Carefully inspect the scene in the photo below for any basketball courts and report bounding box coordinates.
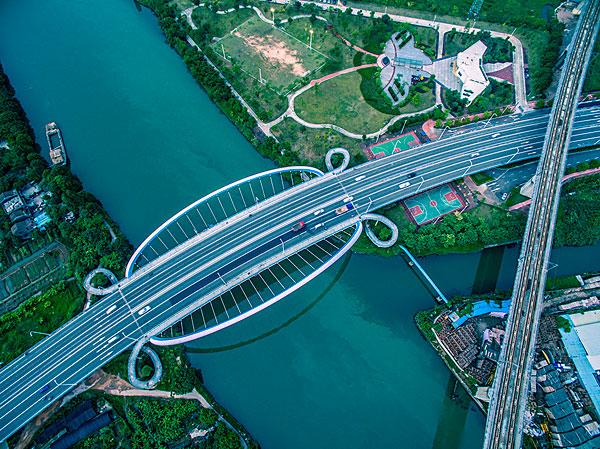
[363,128,423,161]
[398,182,469,226]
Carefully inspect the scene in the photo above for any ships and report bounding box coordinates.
[44,124,65,170]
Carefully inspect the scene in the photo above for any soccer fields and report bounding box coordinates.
[212,15,329,94]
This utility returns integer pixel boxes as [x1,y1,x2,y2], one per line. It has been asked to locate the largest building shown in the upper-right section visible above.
[455,39,513,107]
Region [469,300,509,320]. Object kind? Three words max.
shed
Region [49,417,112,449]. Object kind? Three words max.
shed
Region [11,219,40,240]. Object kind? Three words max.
house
